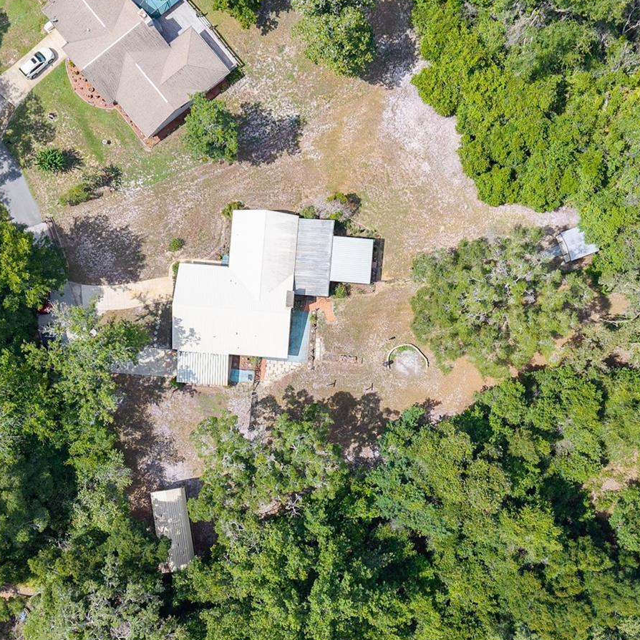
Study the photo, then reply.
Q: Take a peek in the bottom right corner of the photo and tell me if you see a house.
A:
No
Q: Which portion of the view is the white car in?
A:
top left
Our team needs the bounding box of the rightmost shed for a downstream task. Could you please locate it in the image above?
[553,226,596,265]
